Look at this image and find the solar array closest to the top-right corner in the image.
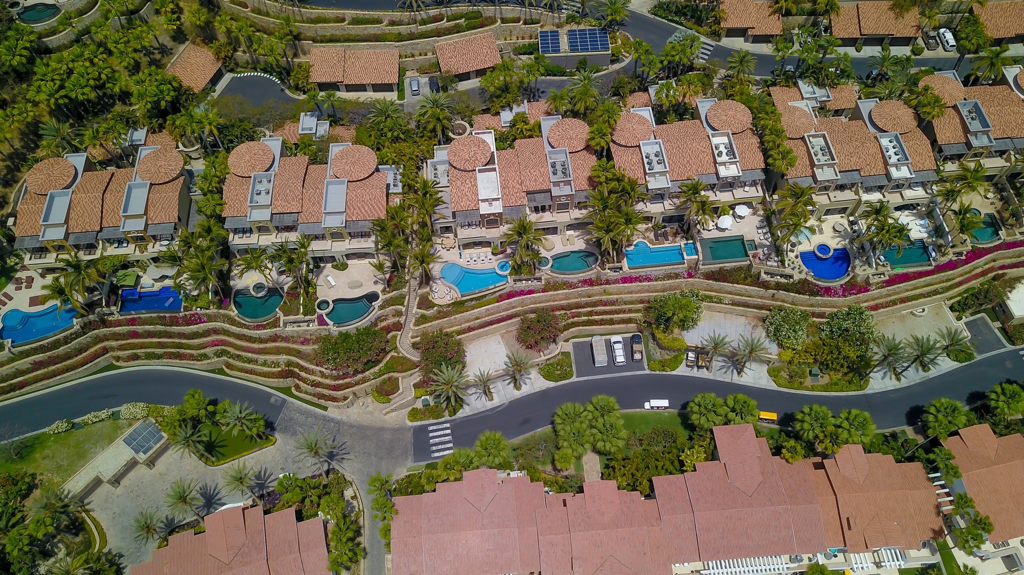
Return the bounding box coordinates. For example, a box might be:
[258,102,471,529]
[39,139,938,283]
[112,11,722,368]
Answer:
[568,28,609,52]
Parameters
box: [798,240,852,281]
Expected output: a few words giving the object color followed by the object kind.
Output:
blue swimming pool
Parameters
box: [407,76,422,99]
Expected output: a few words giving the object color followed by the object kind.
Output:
gray car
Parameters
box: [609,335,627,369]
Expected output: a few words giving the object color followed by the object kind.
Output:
white car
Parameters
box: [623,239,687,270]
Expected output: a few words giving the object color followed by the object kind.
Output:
blue swimming pool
